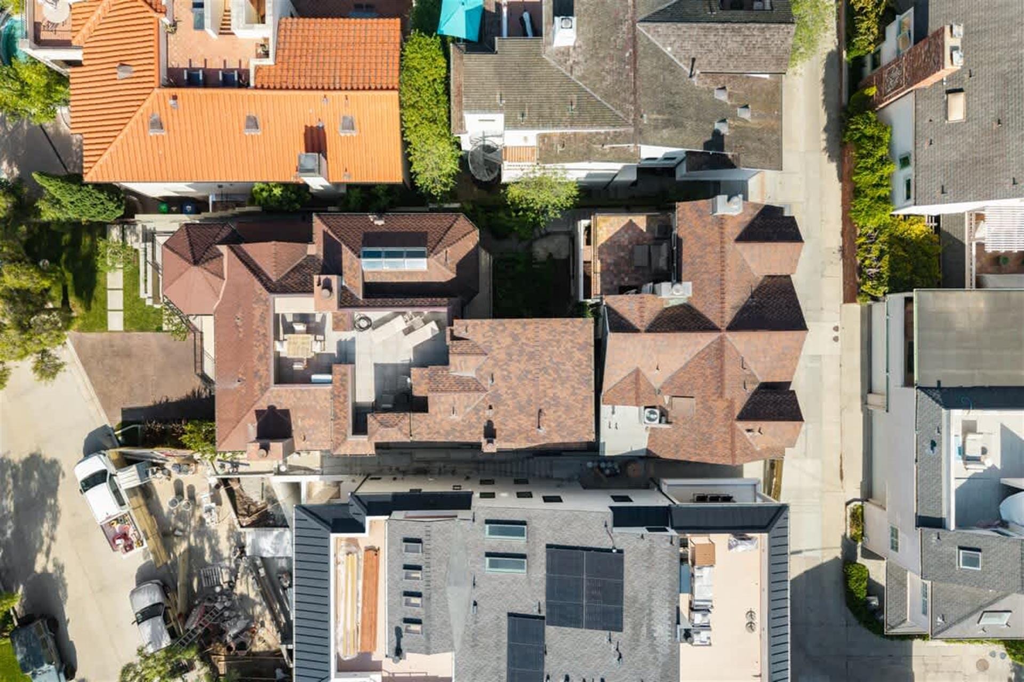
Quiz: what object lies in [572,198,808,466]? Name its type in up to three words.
house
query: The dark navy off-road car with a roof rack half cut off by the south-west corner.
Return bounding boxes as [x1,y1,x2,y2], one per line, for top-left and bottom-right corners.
[12,599,87,682]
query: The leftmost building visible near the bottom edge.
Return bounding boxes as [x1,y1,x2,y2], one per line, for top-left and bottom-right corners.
[292,465,791,682]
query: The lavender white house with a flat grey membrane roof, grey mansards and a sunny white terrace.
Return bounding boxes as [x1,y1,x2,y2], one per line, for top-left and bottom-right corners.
[856,289,1024,648]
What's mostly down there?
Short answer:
buildings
